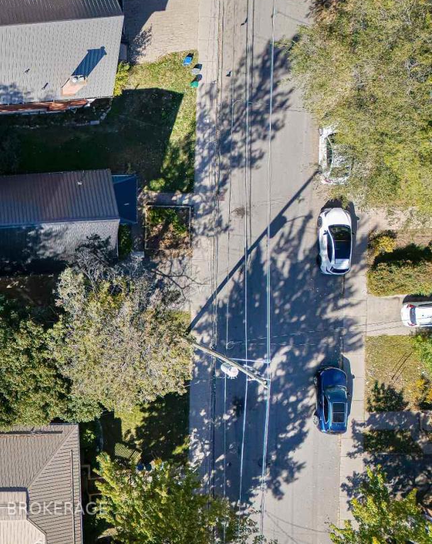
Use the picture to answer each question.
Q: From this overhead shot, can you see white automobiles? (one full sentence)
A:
Yes, there's a white automobile down there.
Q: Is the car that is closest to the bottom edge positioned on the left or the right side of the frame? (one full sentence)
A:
It is on the right.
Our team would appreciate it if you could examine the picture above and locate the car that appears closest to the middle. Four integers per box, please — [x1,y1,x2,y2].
[316,208,356,274]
